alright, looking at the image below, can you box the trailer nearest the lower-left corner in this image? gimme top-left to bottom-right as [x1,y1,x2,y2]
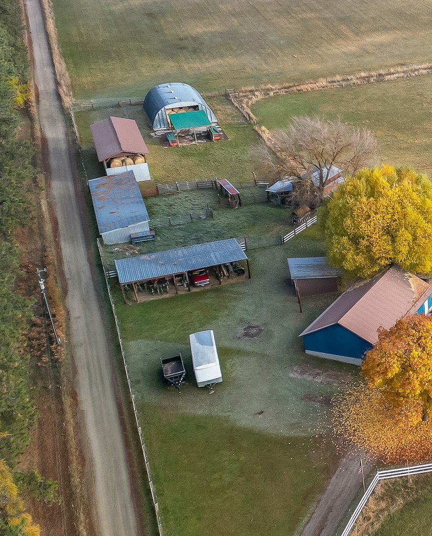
[160,352,188,393]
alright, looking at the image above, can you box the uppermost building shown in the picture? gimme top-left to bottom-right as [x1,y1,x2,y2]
[147,79,219,130]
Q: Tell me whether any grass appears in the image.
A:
Yes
